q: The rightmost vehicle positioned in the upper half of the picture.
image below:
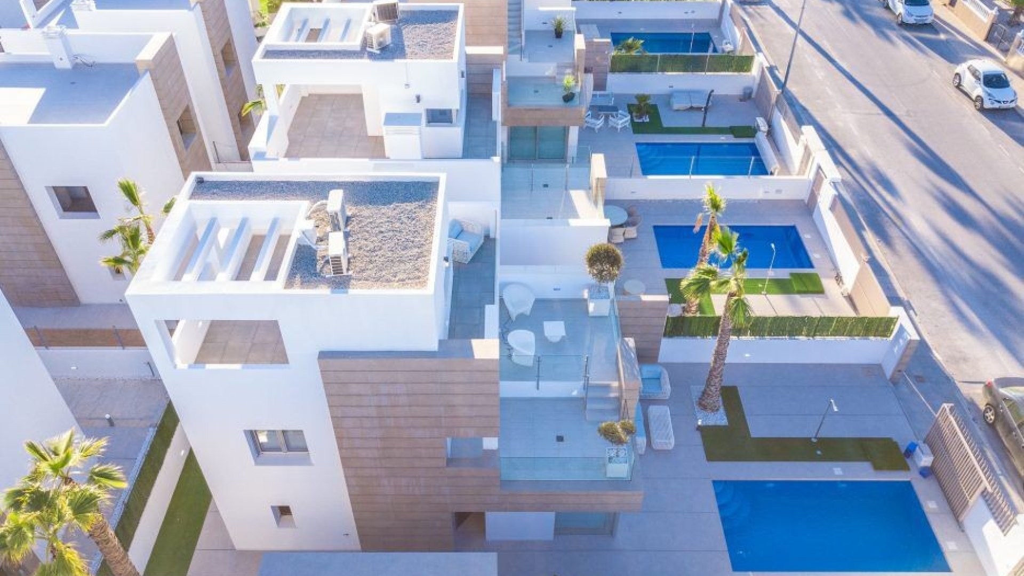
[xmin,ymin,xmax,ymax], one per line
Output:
[951,55,1019,104]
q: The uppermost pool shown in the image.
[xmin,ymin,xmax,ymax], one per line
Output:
[608,31,722,54]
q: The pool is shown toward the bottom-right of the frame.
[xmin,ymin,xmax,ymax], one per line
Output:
[708,476,957,576]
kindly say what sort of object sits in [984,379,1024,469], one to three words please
car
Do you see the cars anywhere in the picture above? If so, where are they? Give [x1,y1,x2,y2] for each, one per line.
[984,379,1024,469]
[951,55,1019,104]
[882,0,937,21]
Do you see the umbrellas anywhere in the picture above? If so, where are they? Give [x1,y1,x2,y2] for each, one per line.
[698,84,718,128]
